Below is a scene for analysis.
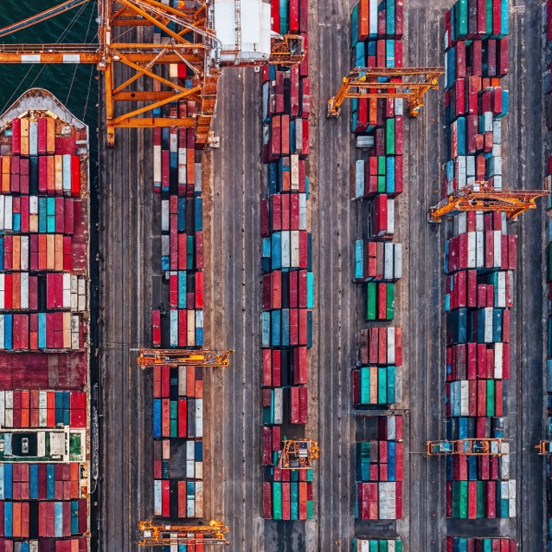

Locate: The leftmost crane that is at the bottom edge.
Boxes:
[136,508,227,551]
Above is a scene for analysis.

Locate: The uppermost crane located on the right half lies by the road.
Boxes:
[334,69,441,128]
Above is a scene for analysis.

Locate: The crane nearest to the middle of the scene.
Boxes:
[135,341,227,381]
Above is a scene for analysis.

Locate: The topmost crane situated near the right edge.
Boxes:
[436,186,551,236]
